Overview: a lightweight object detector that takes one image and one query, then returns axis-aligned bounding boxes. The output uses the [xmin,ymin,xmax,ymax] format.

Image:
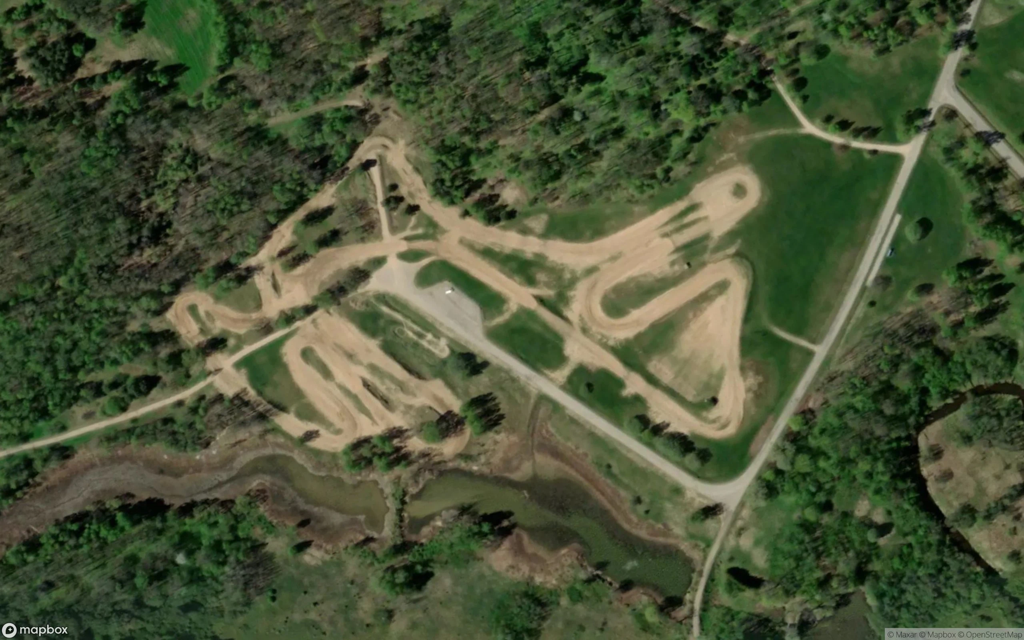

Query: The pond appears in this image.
[238,454,694,605]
